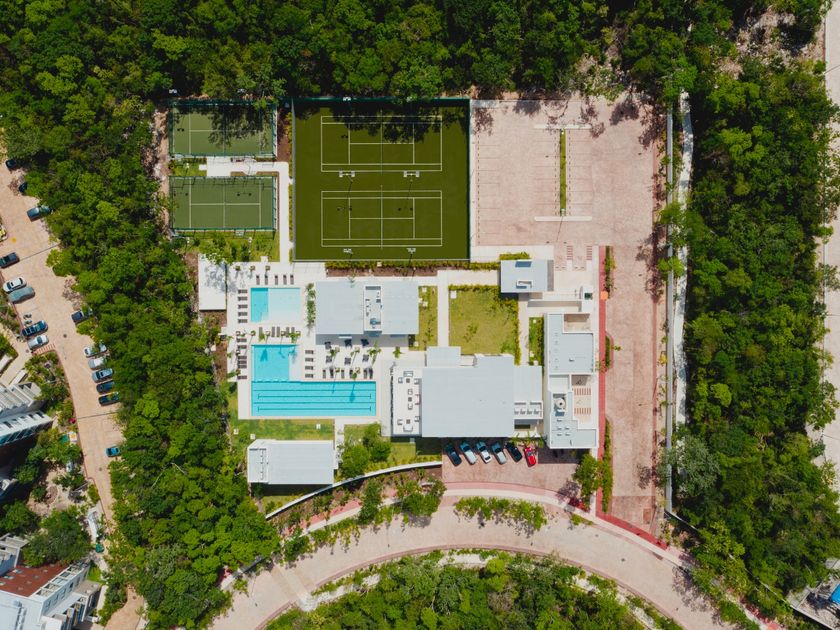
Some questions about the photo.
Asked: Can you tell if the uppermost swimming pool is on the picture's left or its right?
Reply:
left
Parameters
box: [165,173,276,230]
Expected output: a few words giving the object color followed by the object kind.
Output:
green sports court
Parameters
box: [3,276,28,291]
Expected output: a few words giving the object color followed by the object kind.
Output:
white car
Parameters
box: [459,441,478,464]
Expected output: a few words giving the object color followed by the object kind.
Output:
white car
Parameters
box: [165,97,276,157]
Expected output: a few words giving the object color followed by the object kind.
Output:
green sports court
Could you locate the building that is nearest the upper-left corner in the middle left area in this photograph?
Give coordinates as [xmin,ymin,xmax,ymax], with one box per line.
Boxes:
[199,254,227,310]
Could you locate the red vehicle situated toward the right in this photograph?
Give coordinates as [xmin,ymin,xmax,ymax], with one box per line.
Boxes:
[523,444,538,465]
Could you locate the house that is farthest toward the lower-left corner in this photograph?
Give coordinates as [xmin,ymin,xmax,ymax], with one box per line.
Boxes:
[0,527,103,630]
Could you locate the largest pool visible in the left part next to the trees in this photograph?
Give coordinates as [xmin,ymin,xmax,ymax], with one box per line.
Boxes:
[250,344,377,418]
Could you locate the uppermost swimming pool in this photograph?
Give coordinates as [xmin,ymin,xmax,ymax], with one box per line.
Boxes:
[249,287,302,323]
